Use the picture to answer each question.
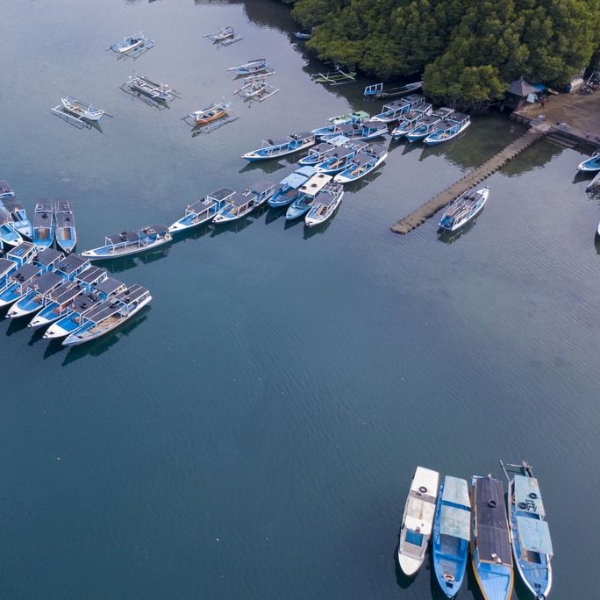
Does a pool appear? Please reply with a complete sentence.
No, I can't see a single pool in this photo.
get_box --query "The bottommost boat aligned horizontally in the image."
[78,223,171,262]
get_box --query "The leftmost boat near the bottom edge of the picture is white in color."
[396,463,441,576]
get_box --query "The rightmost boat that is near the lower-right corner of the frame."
[503,474,556,598]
